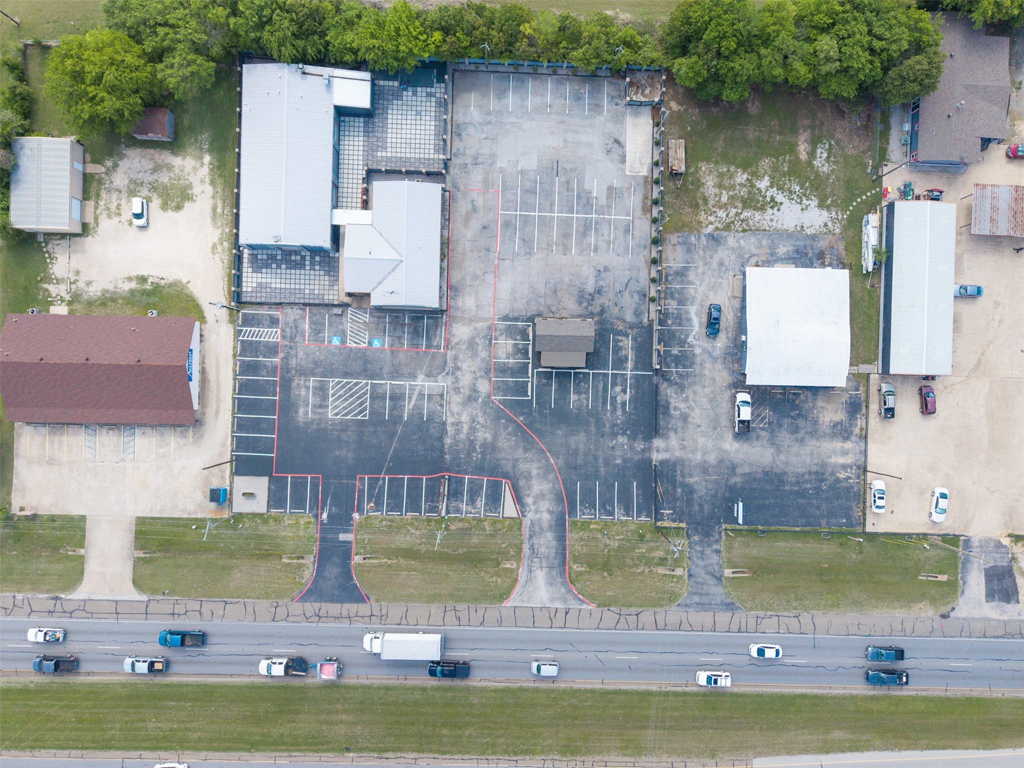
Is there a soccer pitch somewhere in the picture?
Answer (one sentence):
No, the scene contains no soccer pitch.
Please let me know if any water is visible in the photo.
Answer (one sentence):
No, there's no water in this view.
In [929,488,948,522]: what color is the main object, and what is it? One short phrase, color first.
white car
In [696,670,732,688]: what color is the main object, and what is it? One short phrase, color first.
white car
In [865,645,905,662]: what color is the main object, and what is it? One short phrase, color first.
blue vehicle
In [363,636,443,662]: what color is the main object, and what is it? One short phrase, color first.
white truck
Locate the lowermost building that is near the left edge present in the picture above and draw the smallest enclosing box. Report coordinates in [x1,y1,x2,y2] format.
[0,314,200,424]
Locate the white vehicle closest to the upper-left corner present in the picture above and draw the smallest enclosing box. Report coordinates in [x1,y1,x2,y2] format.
[132,198,149,227]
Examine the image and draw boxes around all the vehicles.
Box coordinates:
[428,660,470,678]
[749,643,783,660]
[919,385,937,416]
[32,656,79,674]
[531,661,559,677]
[1006,143,1024,160]
[696,670,732,688]
[954,283,985,299]
[123,657,169,675]
[735,392,753,434]
[878,382,896,420]
[132,198,149,227]
[153,760,188,768]
[929,488,948,522]
[26,627,67,645]
[870,480,887,514]
[865,645,905,662]
[865,668,909,686]
[706,303,722,337]
[259,657,304,676]
[363,636,443,662]
[157,629,206,648]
